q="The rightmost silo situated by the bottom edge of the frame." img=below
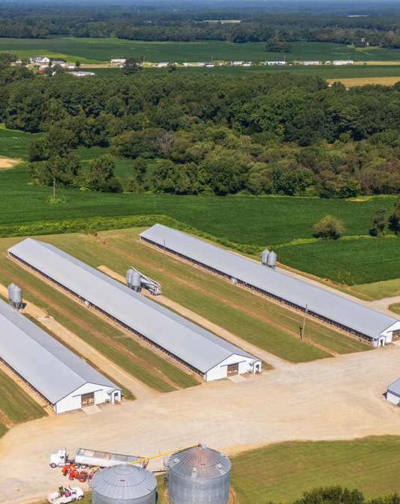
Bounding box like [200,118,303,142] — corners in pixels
[165,445,234,504]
